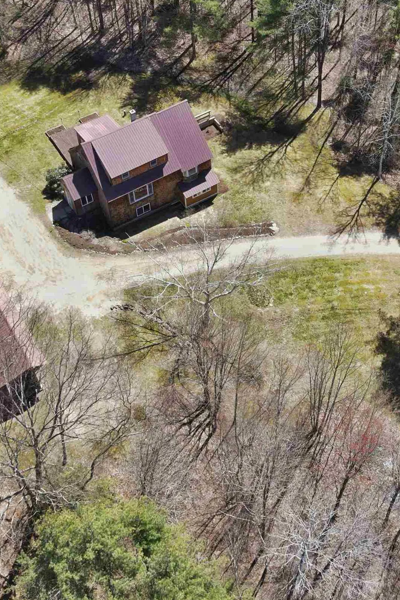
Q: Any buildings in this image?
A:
Yes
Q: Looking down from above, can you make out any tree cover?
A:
Yes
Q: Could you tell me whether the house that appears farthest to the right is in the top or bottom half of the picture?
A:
top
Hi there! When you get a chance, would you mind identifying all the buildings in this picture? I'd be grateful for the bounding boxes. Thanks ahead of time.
[0,288,49,415]
[46,98,220,229]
